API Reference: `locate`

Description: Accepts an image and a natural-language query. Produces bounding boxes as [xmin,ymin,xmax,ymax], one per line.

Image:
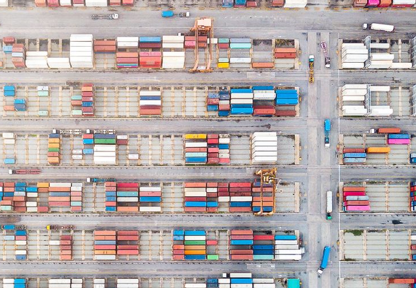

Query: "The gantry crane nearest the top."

[189,16,213,73]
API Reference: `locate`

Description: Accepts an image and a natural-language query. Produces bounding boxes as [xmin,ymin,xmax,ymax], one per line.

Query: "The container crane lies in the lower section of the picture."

[251,166,277,217]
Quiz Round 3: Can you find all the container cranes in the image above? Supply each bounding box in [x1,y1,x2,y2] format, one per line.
[251,166,277,217]
[189,16,213,73]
